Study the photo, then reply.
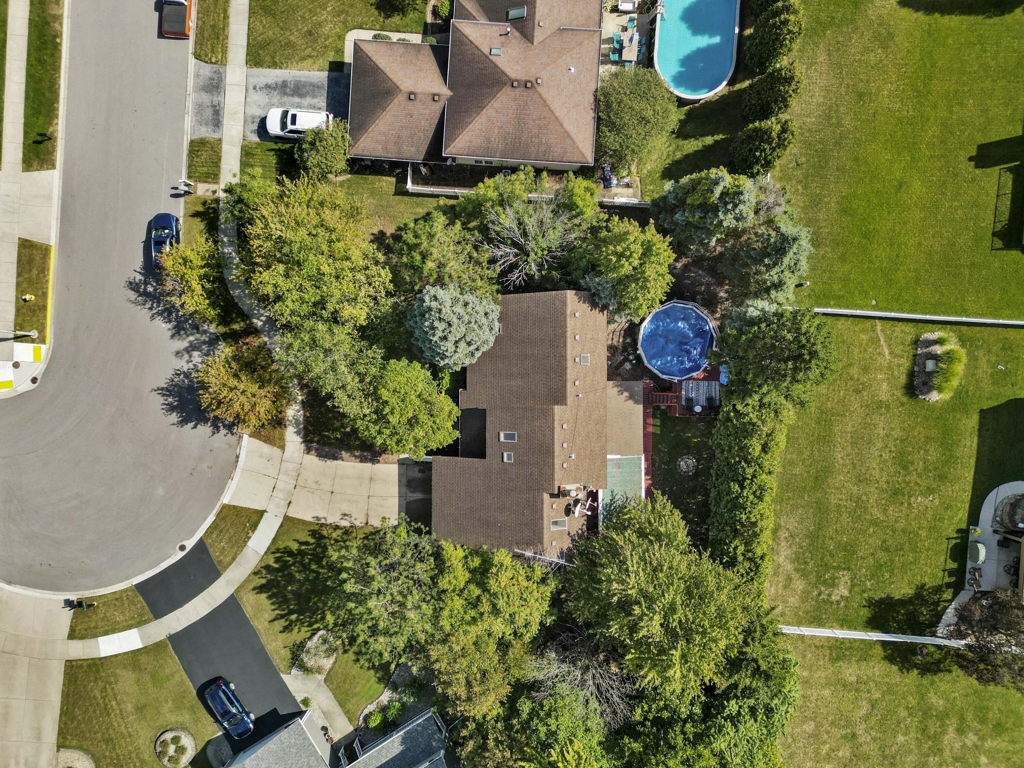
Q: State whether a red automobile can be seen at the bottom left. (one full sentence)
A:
No, no red automobile is visible at the bottom left.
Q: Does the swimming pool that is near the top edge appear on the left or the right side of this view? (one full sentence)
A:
It is on the right.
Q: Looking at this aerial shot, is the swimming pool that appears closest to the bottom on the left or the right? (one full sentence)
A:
It is on the right.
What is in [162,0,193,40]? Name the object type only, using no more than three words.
truck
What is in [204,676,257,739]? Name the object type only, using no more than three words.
car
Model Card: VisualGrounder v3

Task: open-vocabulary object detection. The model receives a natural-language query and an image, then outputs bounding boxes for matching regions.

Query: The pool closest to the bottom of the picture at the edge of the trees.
[634,300,717,382]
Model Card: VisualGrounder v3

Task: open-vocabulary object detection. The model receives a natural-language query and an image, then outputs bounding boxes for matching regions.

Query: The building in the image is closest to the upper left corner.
[346,0,605,173]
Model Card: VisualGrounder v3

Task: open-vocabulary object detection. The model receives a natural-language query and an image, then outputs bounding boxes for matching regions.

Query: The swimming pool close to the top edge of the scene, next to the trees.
[648,0,741,106]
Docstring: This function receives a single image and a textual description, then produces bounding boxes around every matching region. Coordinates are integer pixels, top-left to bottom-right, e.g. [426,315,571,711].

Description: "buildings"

[346,0,605,173]
[430,290,644,554]
[212,701,476,768]
[993,530,1024,612]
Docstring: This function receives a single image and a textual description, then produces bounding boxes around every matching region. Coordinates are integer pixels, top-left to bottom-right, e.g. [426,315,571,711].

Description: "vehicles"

[162,0,193,40]
[149,214,183,277]
[204,676,257,739]
[267,103,335,138]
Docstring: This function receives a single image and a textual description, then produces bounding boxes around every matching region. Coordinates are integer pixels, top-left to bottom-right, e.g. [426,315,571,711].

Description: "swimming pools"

[648,0,741,106]
[634,300,717,382]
